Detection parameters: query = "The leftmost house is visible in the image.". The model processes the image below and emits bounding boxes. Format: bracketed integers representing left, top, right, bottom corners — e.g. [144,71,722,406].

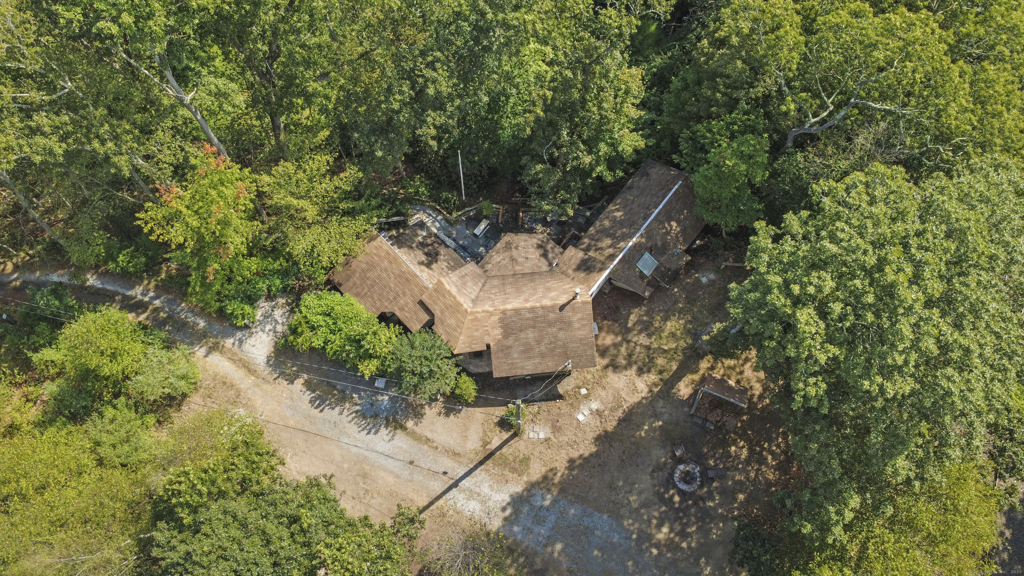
[329,159,715,385]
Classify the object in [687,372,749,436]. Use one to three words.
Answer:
shed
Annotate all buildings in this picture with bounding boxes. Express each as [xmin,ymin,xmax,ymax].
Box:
[329,159,715,385]
[687,372,749,436]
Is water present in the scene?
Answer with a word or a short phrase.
No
